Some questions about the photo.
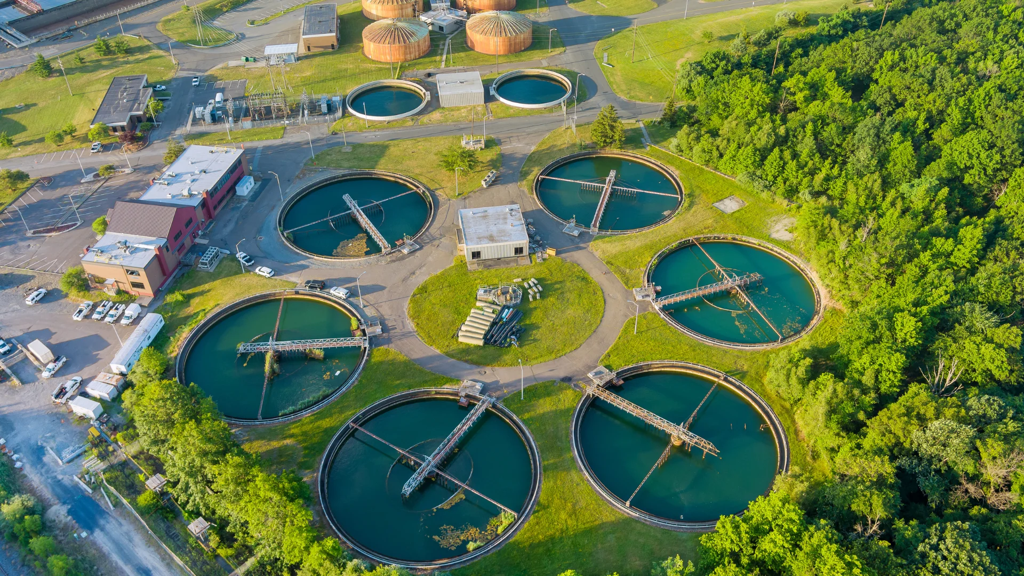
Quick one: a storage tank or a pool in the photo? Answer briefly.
storage tank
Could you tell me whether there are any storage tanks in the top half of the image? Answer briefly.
Yes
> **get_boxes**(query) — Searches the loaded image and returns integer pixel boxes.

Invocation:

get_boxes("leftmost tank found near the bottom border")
[320,377,538,567]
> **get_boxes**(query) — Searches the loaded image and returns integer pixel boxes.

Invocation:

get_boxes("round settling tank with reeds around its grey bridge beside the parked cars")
[176,287,385,424]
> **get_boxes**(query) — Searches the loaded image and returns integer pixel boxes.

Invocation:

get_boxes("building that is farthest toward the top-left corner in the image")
[91,74,155,136]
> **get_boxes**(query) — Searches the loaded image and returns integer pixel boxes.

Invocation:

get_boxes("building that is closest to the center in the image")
[456,204,529,267]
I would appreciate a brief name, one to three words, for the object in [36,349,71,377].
truck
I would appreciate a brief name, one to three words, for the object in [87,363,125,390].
shed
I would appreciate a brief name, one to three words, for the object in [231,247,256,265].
vehicle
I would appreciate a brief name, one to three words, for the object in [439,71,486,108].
building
